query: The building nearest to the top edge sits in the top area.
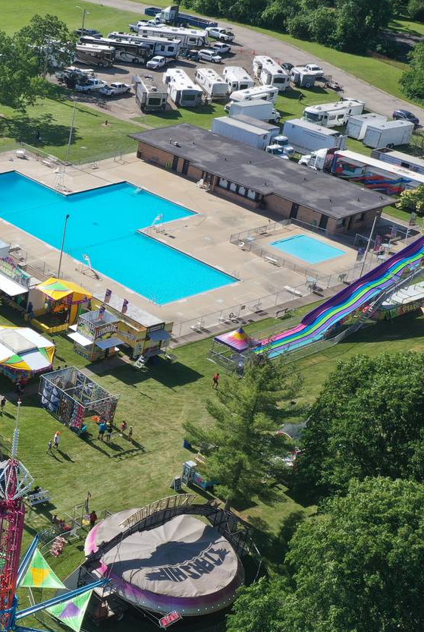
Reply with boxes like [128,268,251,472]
[128,123,400,238]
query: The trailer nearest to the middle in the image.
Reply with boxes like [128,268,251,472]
[75,281,172,368]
